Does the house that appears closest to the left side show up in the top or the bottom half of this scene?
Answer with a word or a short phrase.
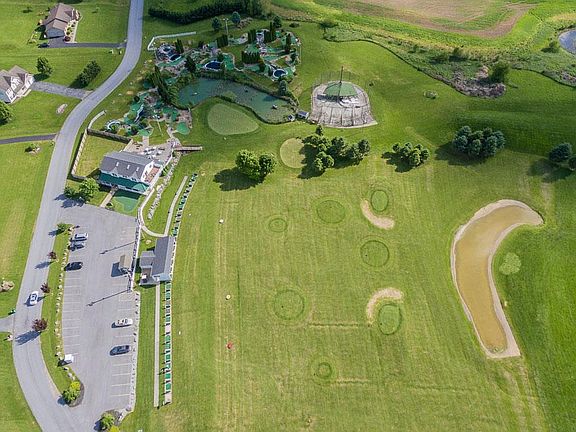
top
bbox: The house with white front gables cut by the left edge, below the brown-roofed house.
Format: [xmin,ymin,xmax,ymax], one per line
[0,66,36,105]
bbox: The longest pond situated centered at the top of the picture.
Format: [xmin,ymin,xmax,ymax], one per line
[179,79,295,124]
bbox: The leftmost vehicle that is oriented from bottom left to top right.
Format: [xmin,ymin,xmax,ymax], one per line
[27,291,41,306]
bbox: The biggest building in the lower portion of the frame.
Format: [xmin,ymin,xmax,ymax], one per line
[140,235,180,288]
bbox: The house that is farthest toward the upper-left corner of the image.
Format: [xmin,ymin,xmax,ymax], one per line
[43,2,79,40]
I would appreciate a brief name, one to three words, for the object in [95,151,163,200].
building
